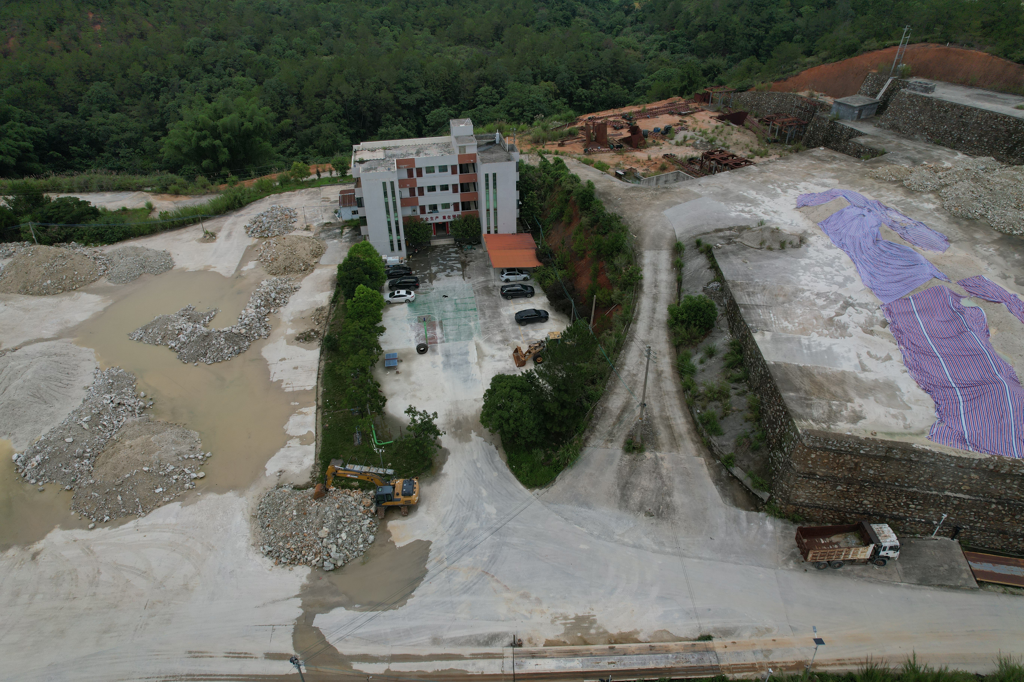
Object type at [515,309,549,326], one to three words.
car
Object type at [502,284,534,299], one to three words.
car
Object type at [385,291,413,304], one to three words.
vehicle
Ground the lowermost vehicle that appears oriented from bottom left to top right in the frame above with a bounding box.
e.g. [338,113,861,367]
[518,337,561,368]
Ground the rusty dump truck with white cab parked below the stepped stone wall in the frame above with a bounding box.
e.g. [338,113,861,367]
[797,525,906,570]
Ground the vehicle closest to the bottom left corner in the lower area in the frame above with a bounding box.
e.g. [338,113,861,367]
[314,462,422,519]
